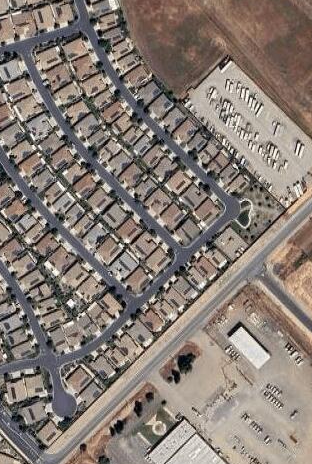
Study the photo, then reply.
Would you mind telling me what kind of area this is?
residential area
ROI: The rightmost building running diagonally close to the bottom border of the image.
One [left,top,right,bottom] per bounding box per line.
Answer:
[149,420,196,464]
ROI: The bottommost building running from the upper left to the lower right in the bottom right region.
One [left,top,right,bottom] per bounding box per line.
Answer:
[230,327,271,369]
